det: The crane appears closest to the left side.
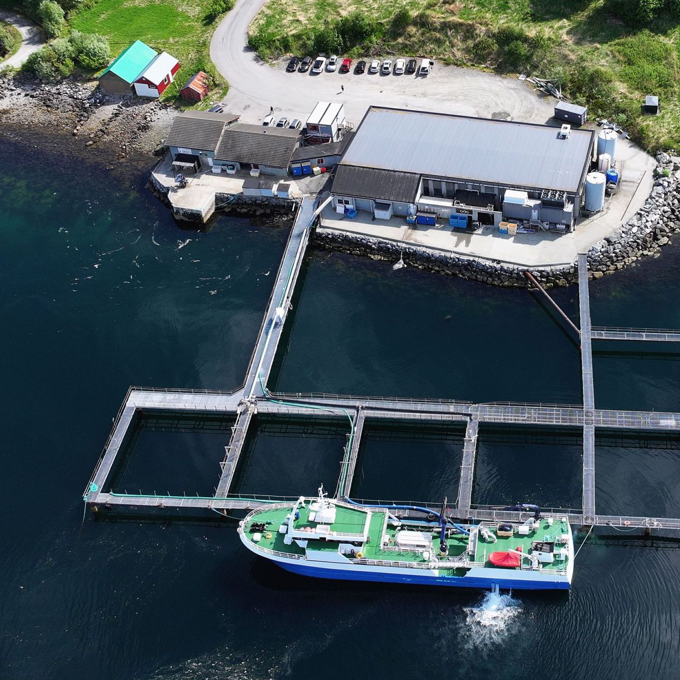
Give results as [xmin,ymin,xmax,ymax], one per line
[436,497,449,562]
